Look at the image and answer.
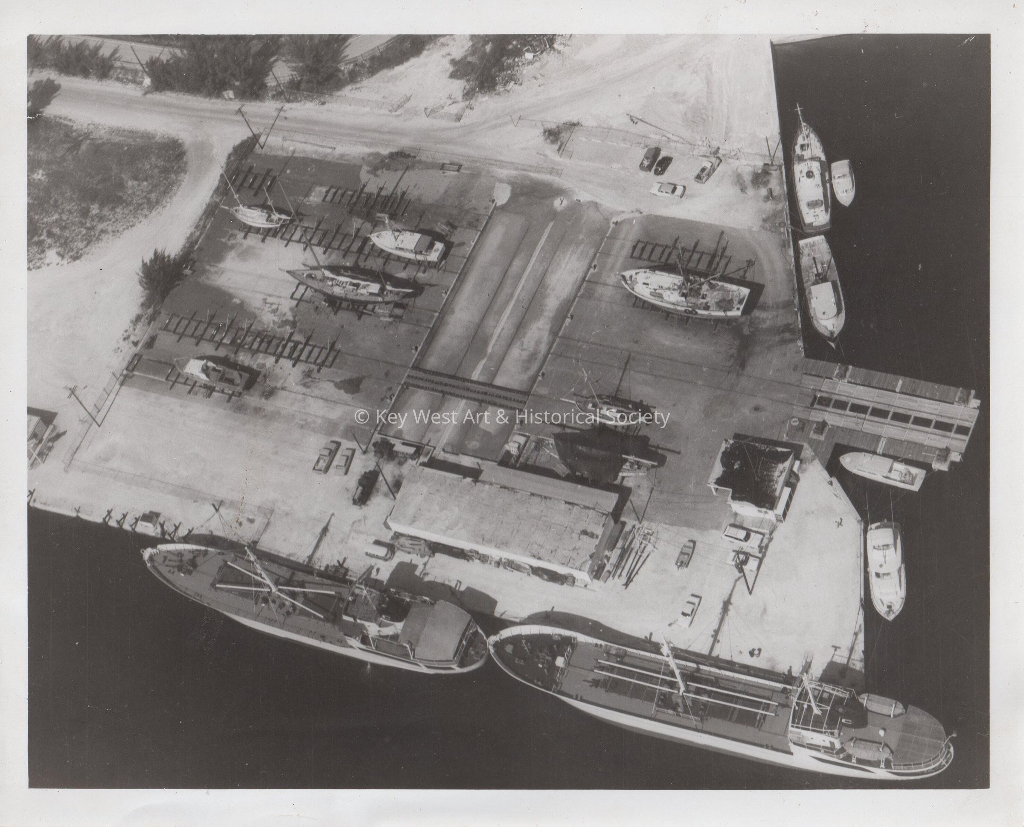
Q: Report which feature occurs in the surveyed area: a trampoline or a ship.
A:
ship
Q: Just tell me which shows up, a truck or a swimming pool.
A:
truck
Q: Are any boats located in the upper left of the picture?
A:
Yes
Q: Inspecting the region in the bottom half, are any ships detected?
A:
Yes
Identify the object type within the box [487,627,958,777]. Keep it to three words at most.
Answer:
ship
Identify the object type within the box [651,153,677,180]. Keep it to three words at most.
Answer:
car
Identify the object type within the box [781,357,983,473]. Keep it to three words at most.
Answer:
pier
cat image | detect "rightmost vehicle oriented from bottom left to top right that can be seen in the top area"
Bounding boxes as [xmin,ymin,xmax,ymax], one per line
[692,155,724,186]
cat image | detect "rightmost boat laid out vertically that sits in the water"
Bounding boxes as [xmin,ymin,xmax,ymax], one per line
[862,492,909,627]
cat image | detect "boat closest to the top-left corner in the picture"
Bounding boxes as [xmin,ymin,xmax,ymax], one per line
[214,160,290,229]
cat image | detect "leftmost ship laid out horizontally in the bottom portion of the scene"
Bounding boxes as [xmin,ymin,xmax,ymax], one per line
[136,542,490,670]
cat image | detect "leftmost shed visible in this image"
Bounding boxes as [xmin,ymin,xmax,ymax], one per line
[0,404,48,450]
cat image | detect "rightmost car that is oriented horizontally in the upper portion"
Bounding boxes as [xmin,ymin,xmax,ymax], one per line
[647,186,689,203]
